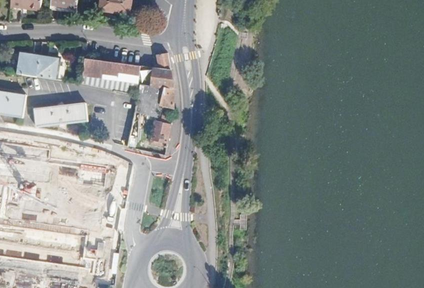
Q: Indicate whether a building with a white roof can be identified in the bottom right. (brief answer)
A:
No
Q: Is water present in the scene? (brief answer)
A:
Yes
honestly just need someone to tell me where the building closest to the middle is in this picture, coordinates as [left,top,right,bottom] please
[151,120,172,141]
